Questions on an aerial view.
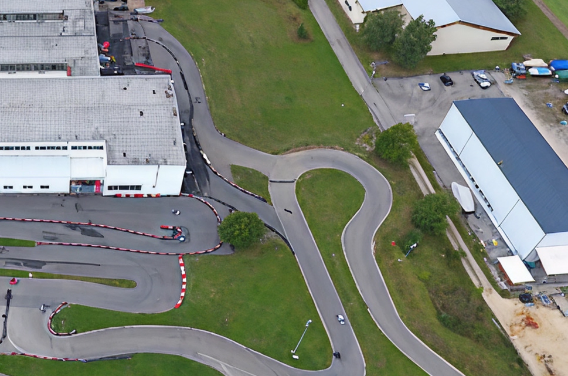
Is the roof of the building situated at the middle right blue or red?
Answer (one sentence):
The roof of the building situated at the middle right looks blue in the image.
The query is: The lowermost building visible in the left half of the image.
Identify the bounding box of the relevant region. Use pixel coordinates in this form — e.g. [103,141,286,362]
[0,76,188,195]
